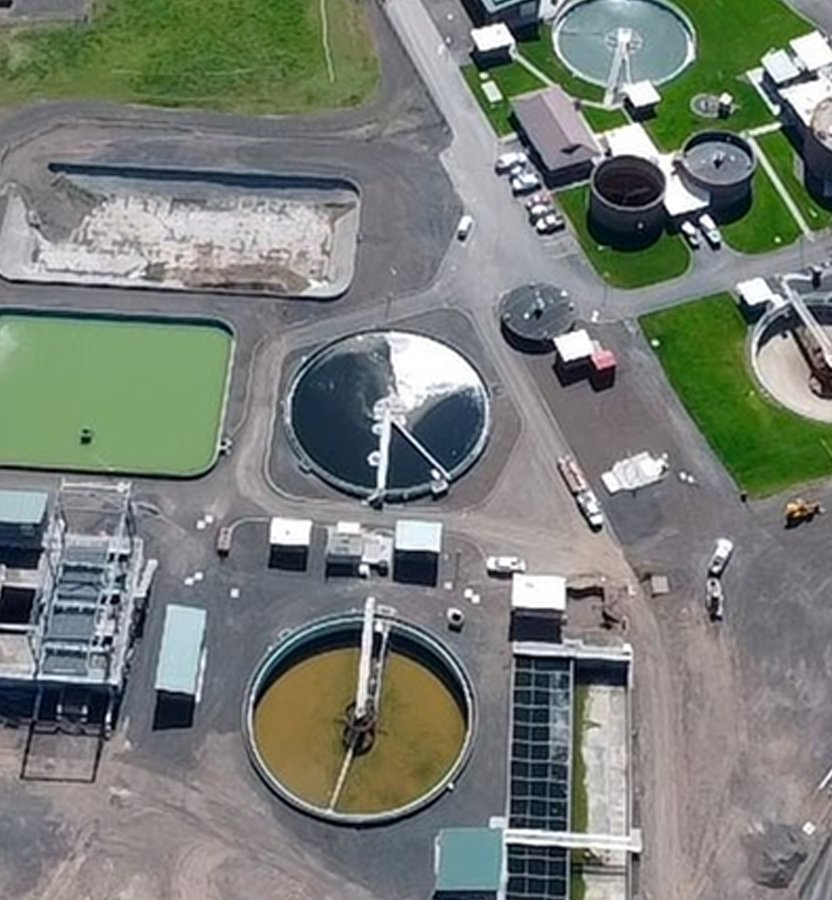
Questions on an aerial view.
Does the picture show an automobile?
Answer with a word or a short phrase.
Yes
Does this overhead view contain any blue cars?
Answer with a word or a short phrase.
No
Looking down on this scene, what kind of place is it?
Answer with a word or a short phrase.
industrial area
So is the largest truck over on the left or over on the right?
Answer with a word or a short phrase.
right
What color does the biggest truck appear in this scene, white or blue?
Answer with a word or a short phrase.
white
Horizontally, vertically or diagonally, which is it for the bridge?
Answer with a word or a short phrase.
horizontally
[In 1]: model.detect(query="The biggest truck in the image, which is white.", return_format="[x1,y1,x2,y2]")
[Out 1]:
[554,454,606,531]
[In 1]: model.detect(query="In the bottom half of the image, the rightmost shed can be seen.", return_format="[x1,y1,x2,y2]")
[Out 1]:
[511,575,566,623]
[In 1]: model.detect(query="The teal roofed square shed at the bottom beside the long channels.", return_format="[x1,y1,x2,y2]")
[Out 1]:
[436,828,503,898]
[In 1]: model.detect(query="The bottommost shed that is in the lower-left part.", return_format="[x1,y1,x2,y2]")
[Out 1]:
[154,606,210,710]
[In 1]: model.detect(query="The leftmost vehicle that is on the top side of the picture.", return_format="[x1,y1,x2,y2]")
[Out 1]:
[456,212,475,242]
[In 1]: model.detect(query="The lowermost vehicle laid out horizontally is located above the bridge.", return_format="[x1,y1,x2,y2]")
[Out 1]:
[488,558,525,575]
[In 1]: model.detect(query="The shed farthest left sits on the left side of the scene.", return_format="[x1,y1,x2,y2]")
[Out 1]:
[0,490,51,544]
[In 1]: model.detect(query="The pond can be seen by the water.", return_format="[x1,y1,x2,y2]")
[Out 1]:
[0,308,236,475]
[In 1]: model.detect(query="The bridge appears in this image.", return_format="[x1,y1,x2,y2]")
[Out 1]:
[505,823,648,856]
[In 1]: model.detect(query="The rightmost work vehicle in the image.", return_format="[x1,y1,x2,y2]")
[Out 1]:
[786,498,829,524]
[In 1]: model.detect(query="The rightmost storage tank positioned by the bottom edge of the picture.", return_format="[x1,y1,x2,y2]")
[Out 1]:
[490,641,648,900]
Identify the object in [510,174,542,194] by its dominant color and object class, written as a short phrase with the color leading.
white vehicle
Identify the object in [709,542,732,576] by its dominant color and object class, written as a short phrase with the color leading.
white truck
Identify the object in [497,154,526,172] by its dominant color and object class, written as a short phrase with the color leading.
white car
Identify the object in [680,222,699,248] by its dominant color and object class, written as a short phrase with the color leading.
white car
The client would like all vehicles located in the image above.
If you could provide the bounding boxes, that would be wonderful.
[535,217,564,236]
[497,154,526,172]
[510,174,542,194]
[680,222,699,248]
[786,498,829,524]
[456,212,475,242]
[699,214,721,244]
[554,454,606,531]
[525,192,553,209]
[709,542,732,576]
[508,164,536,181]
[530,203,559,221]
[488,558,525,575]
